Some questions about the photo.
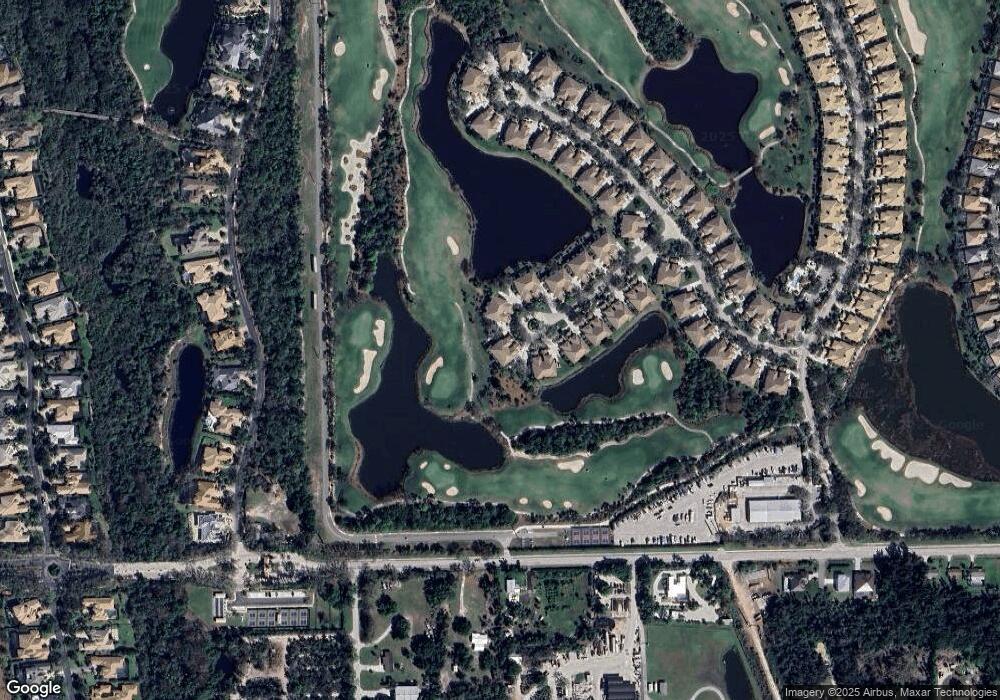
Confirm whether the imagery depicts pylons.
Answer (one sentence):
No, I can see no pylon in this picture.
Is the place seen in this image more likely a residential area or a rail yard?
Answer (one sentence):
This image shows a residential area.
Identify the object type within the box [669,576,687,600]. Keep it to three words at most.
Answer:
building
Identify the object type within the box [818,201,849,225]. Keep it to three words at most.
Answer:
house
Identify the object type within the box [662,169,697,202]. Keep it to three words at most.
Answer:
house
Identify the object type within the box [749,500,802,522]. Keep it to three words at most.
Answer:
building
